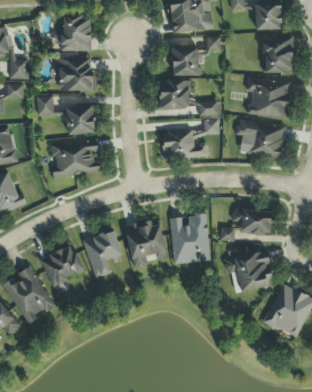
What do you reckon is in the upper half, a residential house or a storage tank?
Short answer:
residential house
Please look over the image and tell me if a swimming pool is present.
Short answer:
Yes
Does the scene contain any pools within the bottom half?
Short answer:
No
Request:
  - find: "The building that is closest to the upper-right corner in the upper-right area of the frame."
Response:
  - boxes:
[256,2,283,30]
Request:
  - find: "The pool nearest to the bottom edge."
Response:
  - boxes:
[39,58,57,84]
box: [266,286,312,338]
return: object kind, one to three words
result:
house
